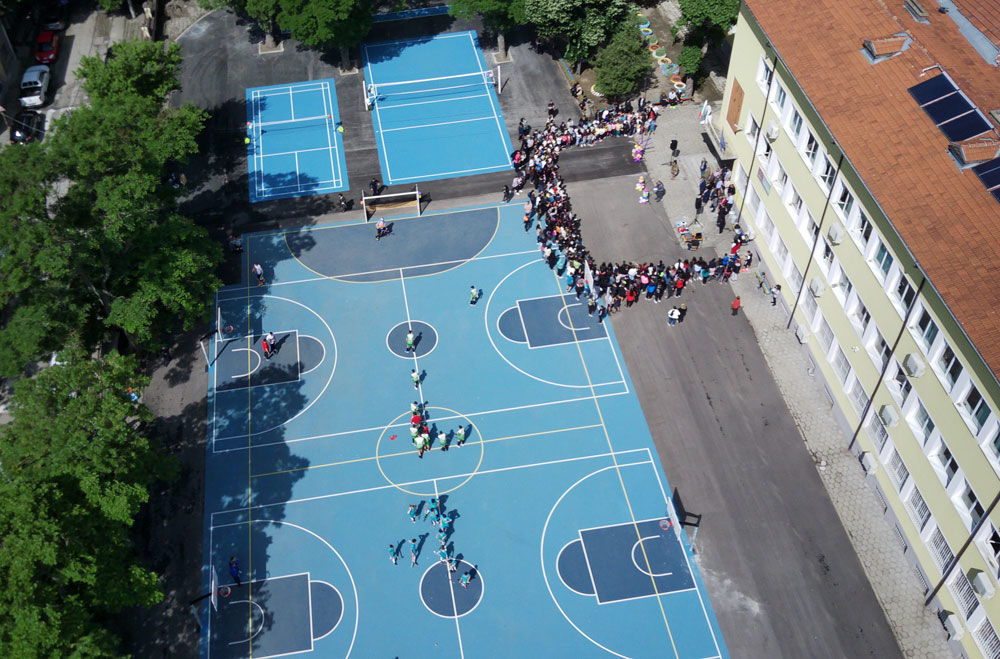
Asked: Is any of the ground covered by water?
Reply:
No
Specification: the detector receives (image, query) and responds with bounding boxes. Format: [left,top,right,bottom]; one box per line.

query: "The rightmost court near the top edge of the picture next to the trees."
[361,30,517,186]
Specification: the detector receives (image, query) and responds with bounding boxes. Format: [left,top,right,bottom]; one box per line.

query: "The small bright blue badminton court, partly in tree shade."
[246,78,350,203]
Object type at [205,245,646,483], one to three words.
basketball court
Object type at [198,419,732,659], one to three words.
basketball court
